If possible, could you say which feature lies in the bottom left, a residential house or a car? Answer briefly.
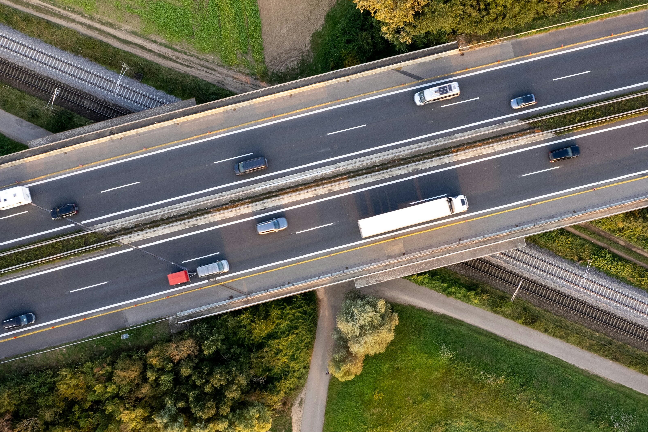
car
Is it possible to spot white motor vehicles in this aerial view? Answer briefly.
Yes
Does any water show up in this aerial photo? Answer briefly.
No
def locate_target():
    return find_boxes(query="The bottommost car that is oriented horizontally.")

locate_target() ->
[2,312,37,330]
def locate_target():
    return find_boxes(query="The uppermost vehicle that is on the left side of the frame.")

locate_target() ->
[233,157,268,175]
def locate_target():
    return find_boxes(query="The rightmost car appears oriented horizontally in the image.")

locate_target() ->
[546,145,580,163]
